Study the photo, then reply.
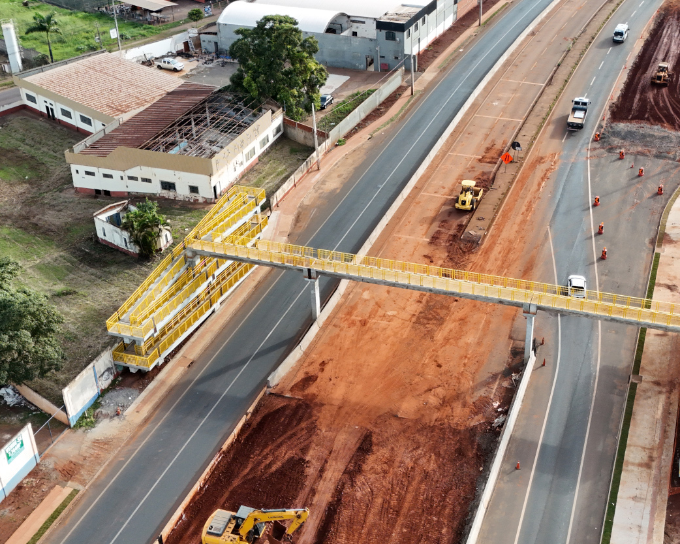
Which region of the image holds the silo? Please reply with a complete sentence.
The silo is located in the top left region of the scene.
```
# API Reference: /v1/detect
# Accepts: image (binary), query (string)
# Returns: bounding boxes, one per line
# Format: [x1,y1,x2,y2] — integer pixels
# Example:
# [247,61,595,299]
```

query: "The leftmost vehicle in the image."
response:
[153,57,187,72]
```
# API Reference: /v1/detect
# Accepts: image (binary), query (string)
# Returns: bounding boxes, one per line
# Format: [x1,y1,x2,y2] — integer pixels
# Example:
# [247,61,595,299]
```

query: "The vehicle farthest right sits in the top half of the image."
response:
[652,59,672,84]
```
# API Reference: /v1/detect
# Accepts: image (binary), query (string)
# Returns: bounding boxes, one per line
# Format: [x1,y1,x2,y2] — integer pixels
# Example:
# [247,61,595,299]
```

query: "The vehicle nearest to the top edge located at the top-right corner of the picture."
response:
[611,24,628,42]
